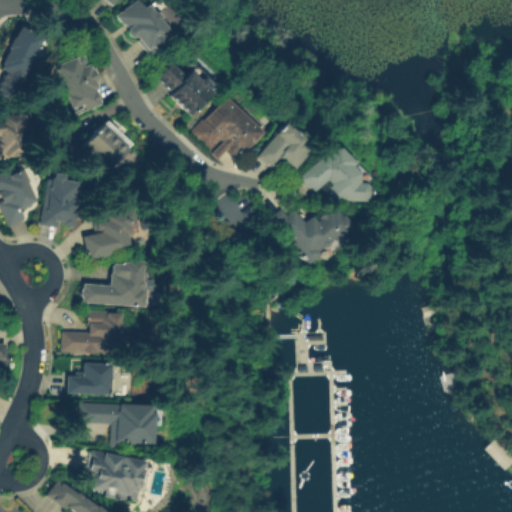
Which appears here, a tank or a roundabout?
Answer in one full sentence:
Of the two, only a roundabout appears.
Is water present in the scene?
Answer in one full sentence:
Yes, water can be seen from above here.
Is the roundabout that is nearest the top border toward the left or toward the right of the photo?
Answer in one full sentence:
You can find the roundabout that is nearest the top border on the left side of the picture.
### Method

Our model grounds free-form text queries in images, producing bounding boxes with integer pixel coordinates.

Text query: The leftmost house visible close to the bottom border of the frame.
[45,480,106,512]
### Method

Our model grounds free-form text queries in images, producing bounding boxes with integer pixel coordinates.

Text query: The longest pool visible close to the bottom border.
[151,472,166,496]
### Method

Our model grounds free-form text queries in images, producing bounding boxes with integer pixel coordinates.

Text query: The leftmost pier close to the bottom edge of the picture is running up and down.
[278,318,351,512]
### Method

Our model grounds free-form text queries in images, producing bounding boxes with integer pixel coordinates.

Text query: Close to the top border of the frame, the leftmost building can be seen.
[0,26,44,99]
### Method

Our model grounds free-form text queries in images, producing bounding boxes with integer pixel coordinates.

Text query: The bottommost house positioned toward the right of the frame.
[275,206,354,264]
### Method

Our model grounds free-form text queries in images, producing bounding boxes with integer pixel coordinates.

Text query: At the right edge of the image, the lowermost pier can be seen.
[486,440,512,470]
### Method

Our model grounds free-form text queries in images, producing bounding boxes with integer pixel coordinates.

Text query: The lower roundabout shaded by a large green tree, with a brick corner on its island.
[0,437,48,494]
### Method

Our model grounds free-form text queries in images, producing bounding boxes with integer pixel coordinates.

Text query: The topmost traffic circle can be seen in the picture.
[10,246,60,300]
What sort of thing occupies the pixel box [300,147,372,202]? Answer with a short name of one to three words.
house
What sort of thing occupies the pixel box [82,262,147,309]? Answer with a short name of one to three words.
house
